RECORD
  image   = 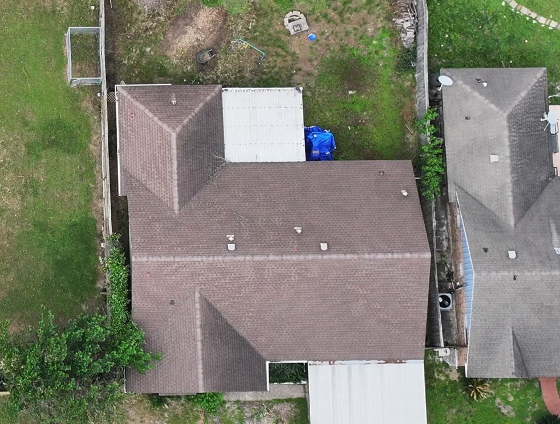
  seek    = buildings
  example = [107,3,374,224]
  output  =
[431,66,560,378]
[114,83,431,393]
